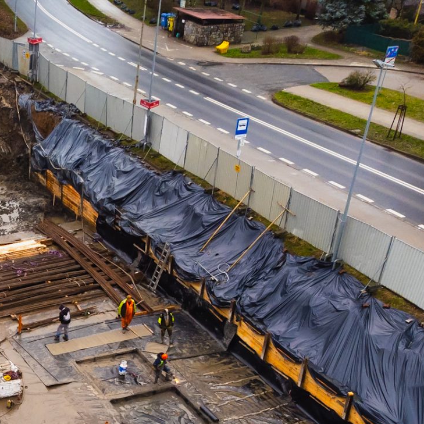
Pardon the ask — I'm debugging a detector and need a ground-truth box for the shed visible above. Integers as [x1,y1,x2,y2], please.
[159,0,255,46]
